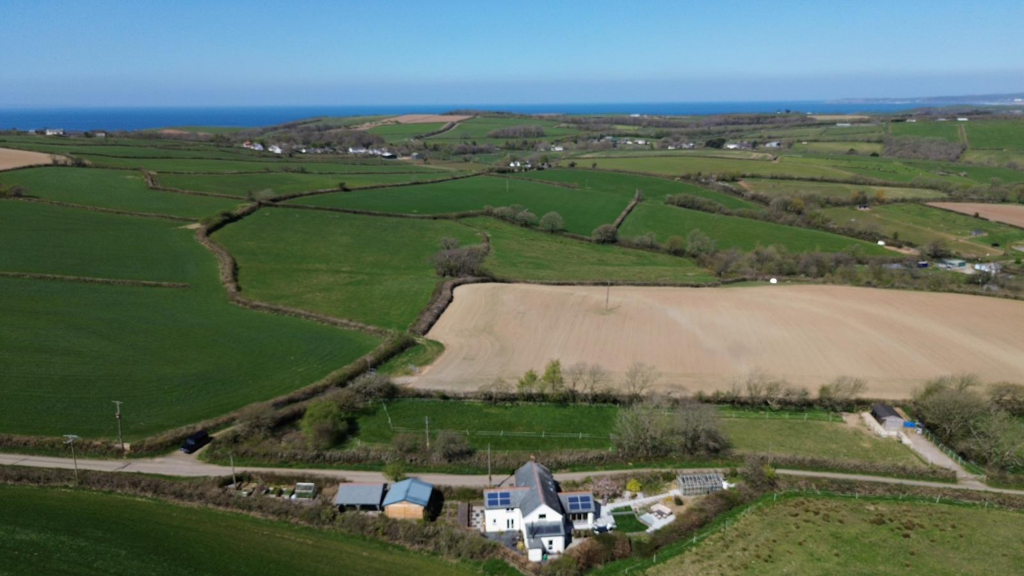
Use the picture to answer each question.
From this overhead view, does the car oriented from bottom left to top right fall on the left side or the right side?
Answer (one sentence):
The car oriented from bottom left to top right is on the left side of the image.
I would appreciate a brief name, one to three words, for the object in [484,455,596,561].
house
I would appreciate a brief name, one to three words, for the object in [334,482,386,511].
shed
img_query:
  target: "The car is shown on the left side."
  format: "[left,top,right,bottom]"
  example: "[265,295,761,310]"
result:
[180,431,210,452]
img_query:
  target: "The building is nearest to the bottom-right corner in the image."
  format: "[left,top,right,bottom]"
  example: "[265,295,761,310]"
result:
[865,402,906,429]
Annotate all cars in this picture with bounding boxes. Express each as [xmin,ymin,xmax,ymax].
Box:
[989,241,1001,246]
[180,431,210,452]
